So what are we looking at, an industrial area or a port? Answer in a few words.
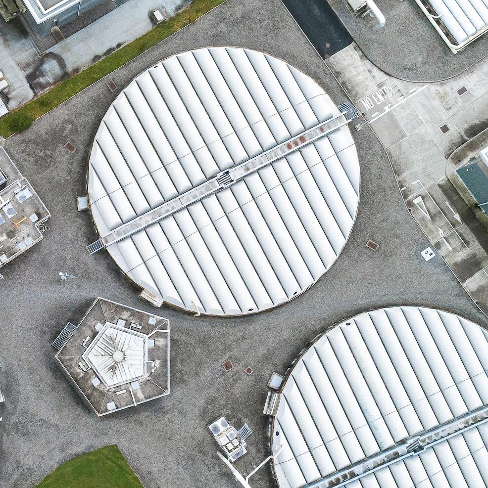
industrial area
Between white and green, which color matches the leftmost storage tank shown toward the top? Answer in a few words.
white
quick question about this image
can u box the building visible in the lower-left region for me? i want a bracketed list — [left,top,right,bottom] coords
[51,297,170,416]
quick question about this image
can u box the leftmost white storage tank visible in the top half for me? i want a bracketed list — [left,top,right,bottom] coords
[78,43,363,320]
